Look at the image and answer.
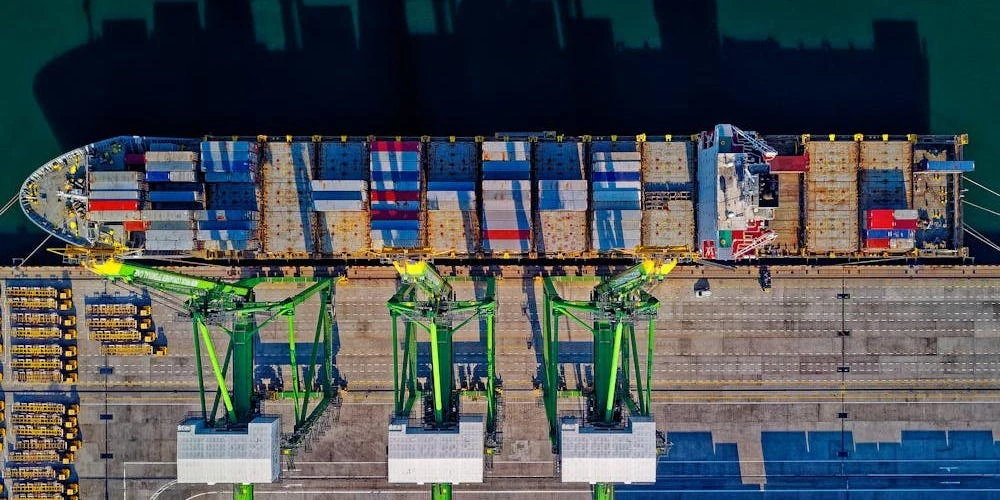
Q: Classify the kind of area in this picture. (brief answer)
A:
port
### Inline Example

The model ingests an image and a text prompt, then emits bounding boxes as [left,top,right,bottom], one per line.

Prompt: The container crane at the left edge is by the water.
[43,242,350,500]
